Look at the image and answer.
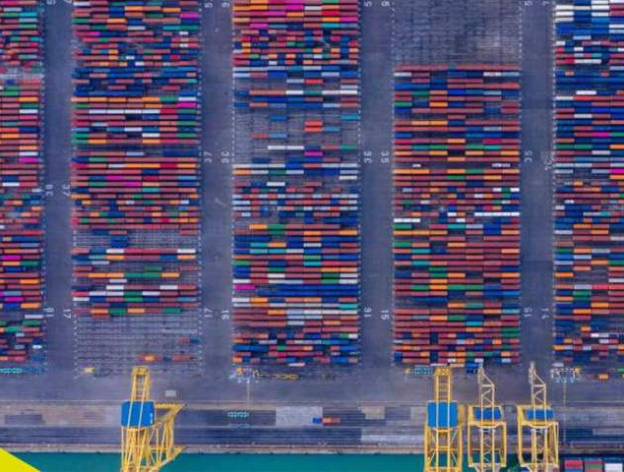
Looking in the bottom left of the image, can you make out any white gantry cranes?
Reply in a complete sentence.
No, there's no white gantry crane to be seen in the bottom left of the image.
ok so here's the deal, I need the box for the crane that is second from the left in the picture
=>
[422,365,464,472]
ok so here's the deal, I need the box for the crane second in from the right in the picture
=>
[463,361,507,472]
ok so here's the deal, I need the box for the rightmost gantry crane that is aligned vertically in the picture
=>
[509,361,557,472]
